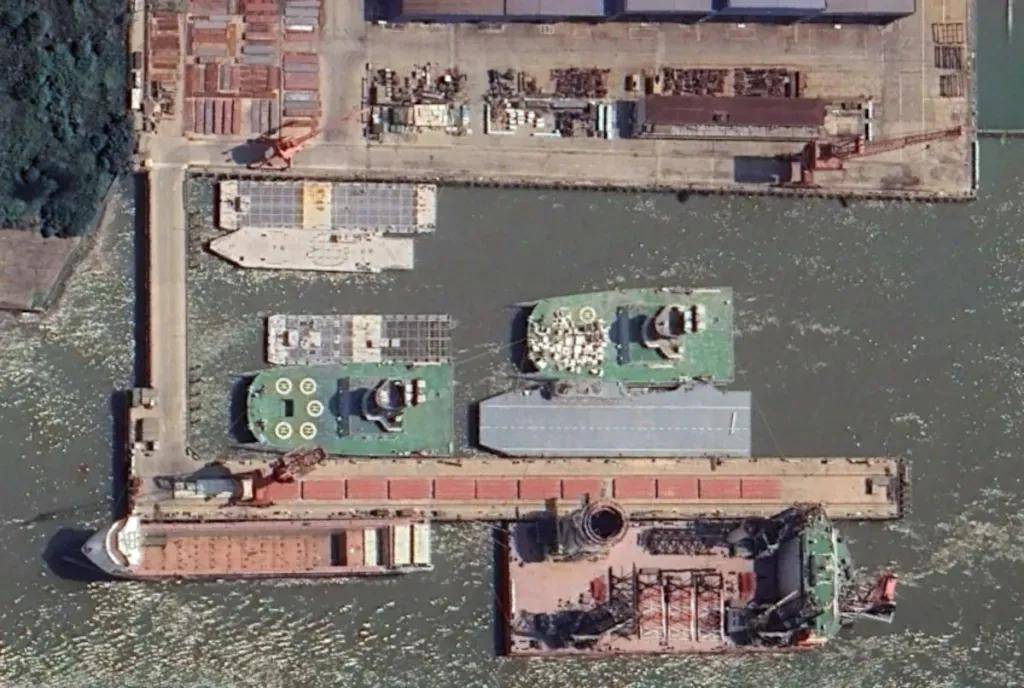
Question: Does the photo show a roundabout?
No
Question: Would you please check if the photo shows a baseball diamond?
No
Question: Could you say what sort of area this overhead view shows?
port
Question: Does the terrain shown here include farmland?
No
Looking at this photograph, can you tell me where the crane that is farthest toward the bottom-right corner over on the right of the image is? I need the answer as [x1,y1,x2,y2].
[729,590,801,640]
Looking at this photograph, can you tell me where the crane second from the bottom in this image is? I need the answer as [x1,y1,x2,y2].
[640,526,785,555]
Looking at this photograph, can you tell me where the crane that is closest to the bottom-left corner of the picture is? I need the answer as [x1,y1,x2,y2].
[224,449,328,509]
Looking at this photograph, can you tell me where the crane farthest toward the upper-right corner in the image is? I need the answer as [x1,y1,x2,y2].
[774,129,962,183]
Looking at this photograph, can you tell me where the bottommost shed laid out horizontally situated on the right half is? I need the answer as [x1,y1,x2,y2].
[634,96,823,141]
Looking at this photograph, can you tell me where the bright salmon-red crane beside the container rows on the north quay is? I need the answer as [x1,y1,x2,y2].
[256,126,333,171]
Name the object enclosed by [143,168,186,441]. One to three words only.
pier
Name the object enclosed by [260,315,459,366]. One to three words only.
ship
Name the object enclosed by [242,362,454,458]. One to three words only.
ship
